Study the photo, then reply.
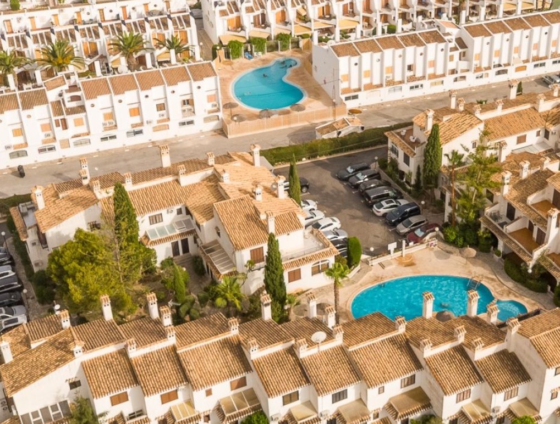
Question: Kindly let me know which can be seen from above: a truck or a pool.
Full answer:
It is a pool that can be seen here.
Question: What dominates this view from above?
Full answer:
Most of the picture is covered by buildings.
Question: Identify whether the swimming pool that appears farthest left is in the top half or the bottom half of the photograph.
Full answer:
You can find the swimming pool that appears farthest left in the top half.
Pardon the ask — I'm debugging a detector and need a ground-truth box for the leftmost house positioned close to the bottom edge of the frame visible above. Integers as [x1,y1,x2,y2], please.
[3,307,97,424]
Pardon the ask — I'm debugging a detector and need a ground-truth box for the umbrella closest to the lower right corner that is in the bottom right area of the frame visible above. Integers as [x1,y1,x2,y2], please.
[433,305,456,323]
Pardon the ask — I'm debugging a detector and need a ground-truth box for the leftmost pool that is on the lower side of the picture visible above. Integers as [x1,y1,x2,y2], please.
[350,272,498,325]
